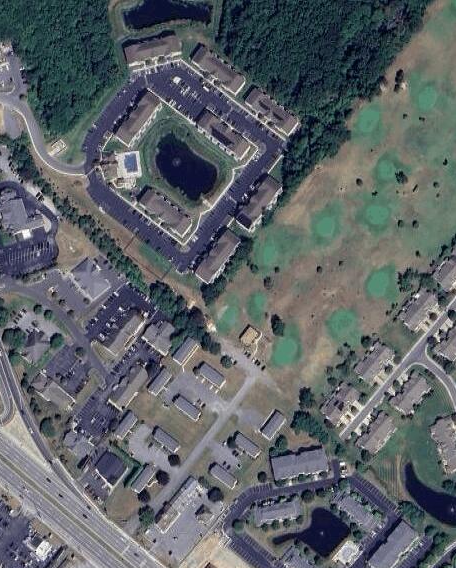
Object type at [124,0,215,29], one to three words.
pond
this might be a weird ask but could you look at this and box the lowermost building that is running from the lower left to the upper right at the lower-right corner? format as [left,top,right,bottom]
[369,521,419,568]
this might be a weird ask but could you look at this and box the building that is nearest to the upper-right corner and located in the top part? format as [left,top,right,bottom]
[247,90,301,137]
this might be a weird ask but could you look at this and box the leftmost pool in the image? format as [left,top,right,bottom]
[113,150,142,188]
